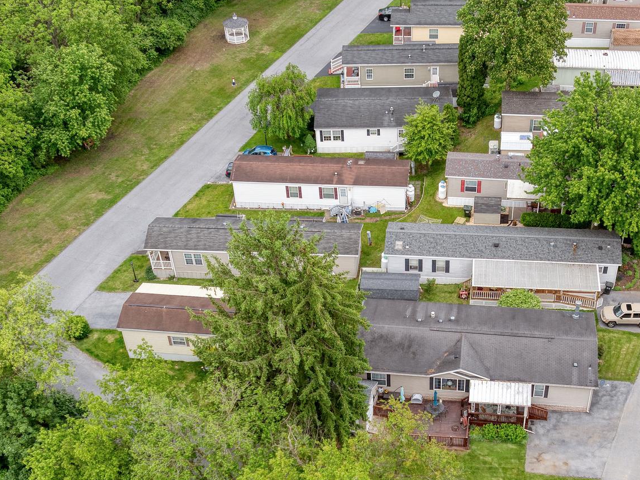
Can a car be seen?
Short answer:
Yes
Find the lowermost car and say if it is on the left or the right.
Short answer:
right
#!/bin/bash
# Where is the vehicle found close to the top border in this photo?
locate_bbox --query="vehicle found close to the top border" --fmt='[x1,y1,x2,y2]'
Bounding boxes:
[375,7,391,24]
